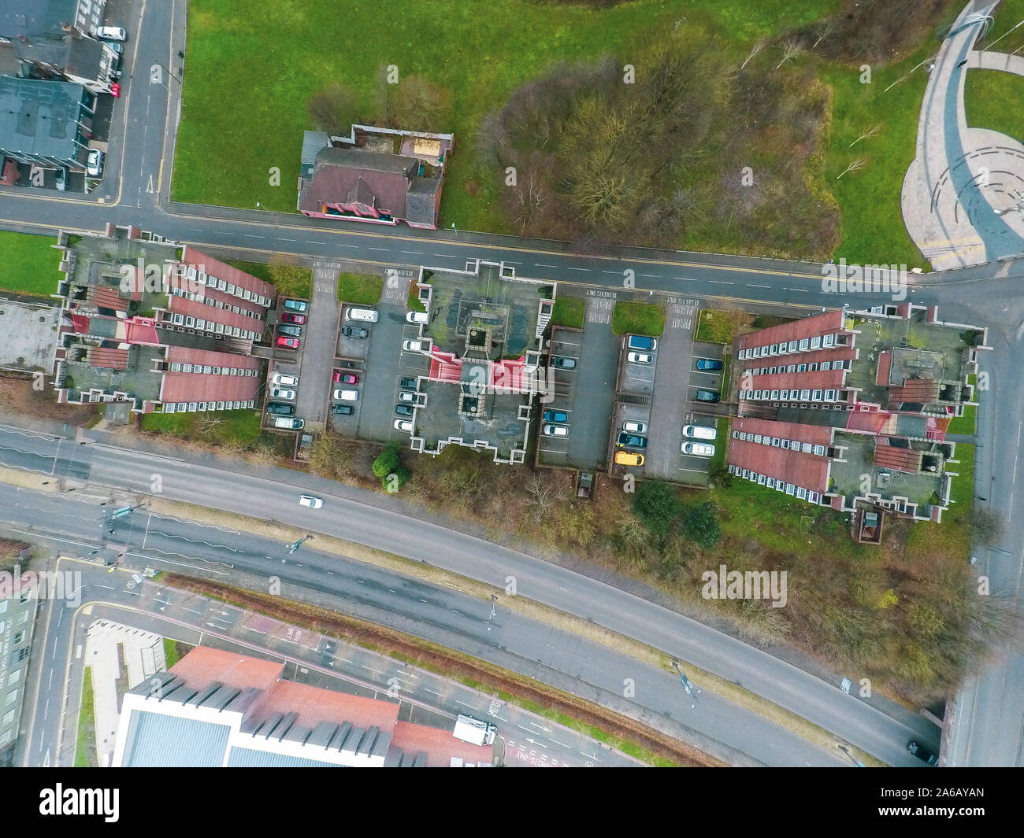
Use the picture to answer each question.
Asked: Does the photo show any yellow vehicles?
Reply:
Yes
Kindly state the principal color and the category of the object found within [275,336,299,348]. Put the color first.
red vehicle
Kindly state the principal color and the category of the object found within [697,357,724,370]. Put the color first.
blue vehicle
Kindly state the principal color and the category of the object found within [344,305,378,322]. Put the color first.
white vehicle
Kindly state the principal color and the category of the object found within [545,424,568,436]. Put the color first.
white vehicle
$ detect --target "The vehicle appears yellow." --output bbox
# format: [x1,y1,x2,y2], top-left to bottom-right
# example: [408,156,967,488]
[615,452,645,468]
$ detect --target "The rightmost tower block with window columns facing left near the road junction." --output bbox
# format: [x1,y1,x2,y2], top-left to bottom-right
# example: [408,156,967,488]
[723,299,988,524]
